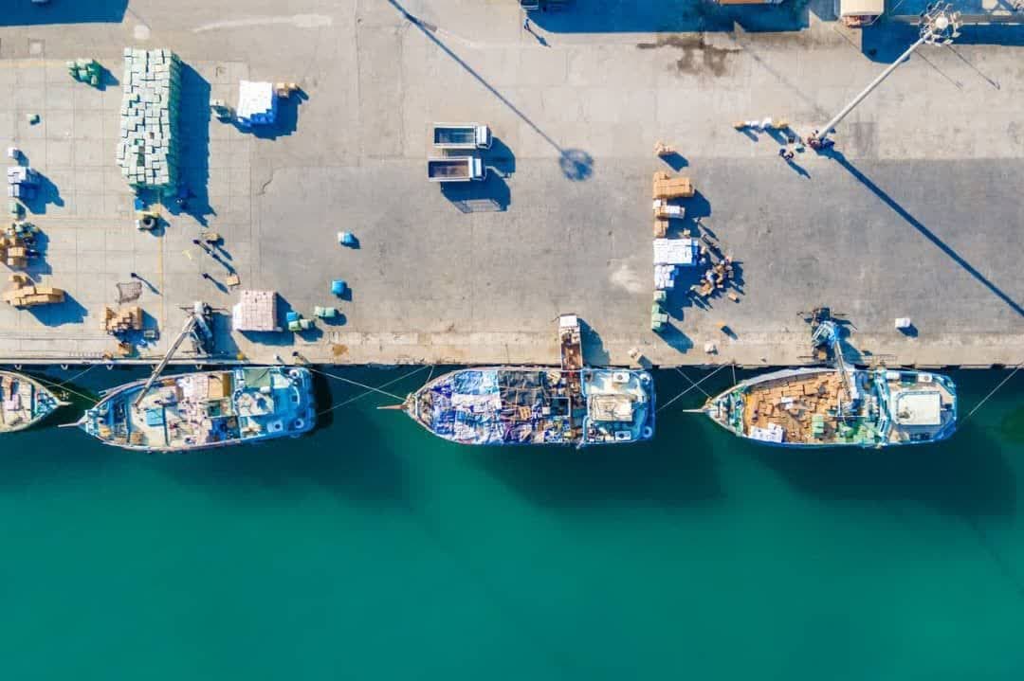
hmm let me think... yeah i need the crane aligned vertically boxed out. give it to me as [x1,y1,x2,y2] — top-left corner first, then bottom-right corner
[806,303,854,404]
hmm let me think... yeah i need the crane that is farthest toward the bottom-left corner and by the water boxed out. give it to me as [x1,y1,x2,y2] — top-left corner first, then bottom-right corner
[136,296,226,408]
